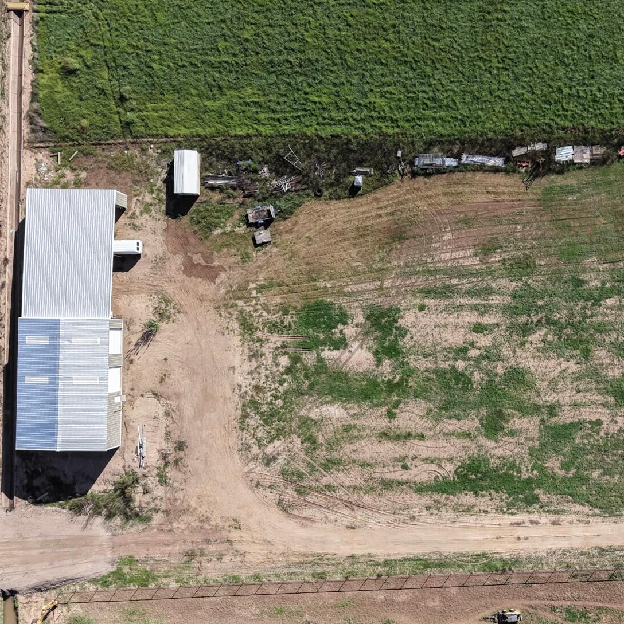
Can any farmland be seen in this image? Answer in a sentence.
Yes, there's farmland in this view.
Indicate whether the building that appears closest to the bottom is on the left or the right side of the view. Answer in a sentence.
The building that appears closest to the bottom appears in the left half of the scene.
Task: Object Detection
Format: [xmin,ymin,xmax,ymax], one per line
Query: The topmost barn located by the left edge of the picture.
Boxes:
[21,188,126,318]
